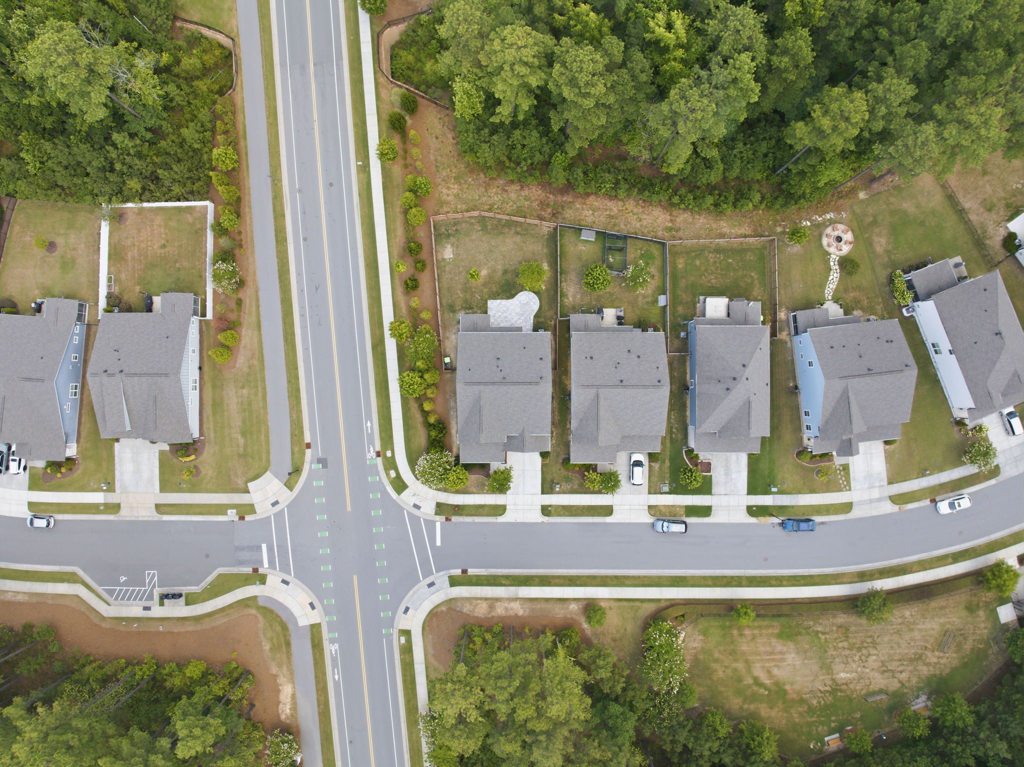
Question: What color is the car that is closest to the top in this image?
white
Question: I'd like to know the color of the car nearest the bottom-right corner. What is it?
white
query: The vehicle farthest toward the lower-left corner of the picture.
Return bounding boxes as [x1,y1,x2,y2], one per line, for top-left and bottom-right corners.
[24,515,53,531]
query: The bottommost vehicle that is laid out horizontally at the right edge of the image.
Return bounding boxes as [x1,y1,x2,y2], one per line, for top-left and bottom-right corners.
[937,495,975,515]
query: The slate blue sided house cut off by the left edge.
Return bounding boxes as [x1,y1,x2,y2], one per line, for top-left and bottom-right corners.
[0,298,87,460]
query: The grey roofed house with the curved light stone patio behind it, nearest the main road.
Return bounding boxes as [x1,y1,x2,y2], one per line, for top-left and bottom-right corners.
[457,313,553,463]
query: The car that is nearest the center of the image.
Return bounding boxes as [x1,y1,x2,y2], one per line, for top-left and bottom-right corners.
[630,453,646,486]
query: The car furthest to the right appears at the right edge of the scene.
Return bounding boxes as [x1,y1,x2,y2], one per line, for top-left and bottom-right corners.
[1001,406,1024,440]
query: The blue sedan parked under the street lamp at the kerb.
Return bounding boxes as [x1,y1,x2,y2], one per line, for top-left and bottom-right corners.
[783,519,817,535]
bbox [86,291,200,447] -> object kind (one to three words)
house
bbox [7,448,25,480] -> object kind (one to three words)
car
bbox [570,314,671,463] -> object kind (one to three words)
house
